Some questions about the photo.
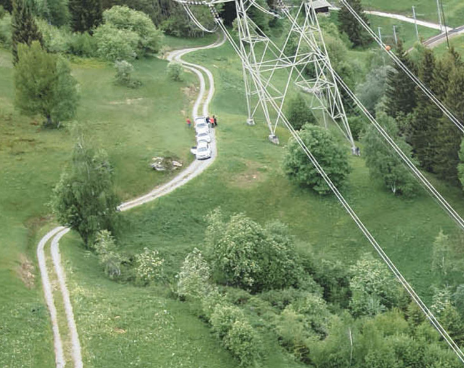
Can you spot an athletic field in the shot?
No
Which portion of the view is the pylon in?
top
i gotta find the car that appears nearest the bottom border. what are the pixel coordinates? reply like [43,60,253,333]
[188,139,210,160]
